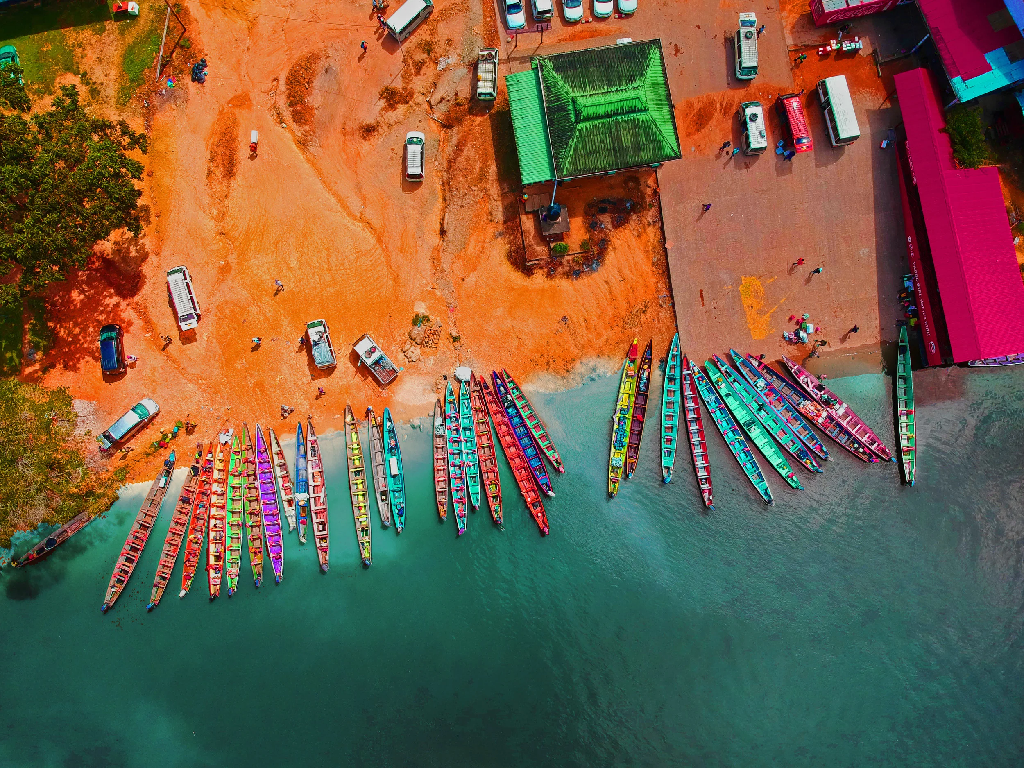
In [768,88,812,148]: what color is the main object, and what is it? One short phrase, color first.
red van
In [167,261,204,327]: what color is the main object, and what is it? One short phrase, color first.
white van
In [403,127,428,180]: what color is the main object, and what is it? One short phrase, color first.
white car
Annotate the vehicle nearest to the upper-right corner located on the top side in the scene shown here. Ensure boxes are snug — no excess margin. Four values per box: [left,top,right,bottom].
[813,76,860,152]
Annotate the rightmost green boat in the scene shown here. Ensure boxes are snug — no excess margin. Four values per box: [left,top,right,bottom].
[896,327,916,488]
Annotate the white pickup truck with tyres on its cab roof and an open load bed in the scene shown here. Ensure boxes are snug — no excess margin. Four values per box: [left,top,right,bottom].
[352,335,402,388]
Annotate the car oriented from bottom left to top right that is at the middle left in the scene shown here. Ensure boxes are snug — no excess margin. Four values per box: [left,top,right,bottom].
[101,385,172,438]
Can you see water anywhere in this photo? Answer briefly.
Yes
